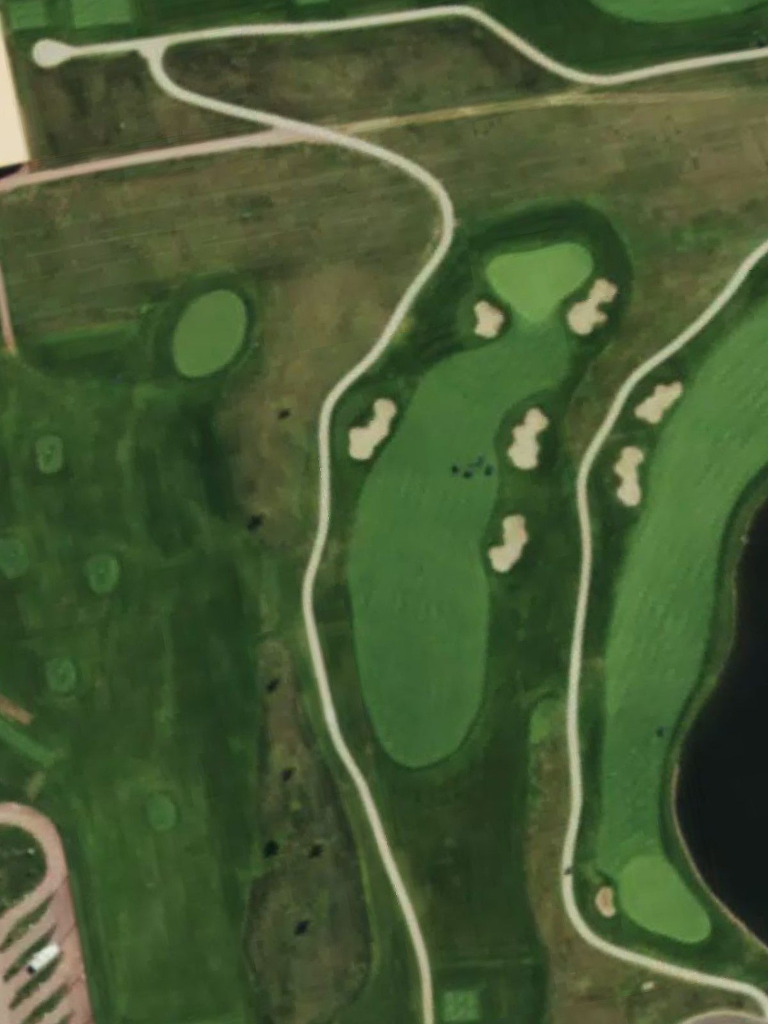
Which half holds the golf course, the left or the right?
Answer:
right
